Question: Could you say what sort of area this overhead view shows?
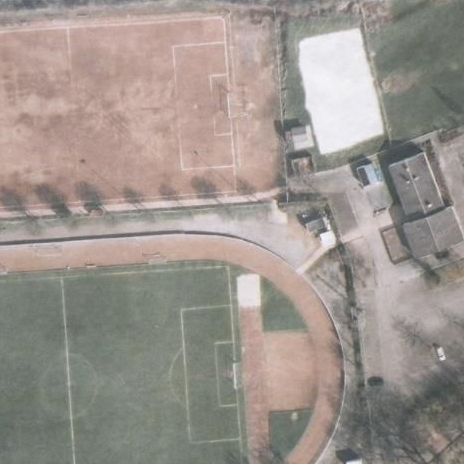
sports ground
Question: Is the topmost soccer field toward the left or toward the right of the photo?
left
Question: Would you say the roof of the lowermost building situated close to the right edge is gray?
Yes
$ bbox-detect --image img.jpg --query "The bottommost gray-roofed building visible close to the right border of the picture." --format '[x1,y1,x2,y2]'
[402,207,464,259]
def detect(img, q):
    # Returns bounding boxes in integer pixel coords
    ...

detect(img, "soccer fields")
[0,260,319,464]
[0,13,242,212]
